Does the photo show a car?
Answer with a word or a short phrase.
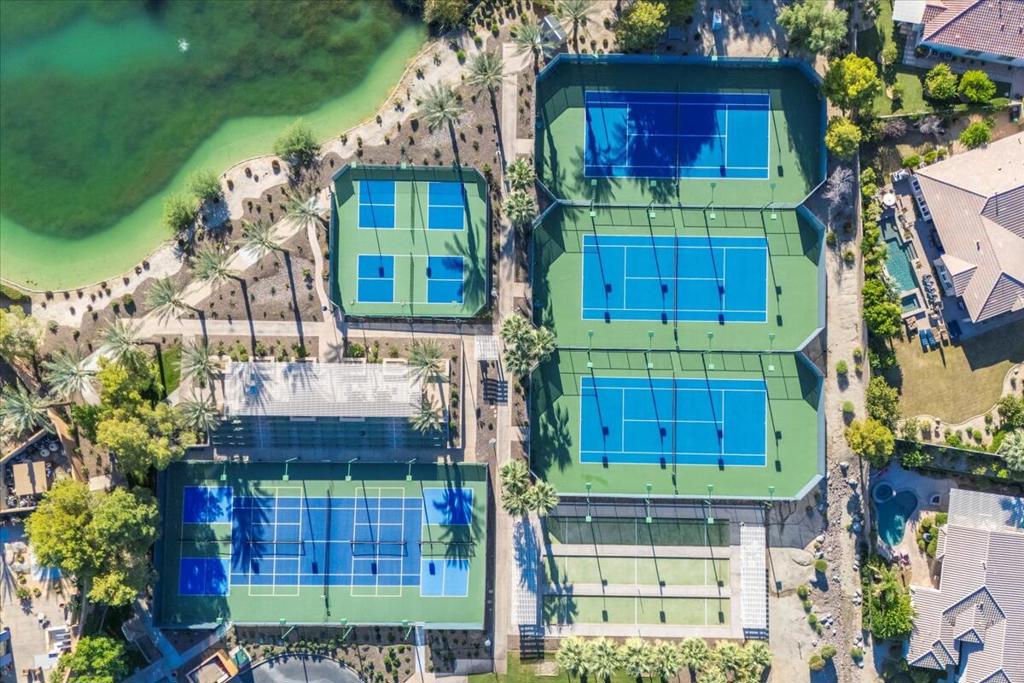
No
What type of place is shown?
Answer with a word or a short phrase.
sports ground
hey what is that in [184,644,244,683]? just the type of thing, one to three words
shed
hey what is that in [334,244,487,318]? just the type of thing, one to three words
sports court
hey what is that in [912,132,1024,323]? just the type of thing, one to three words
house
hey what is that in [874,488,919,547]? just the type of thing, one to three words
swimming pool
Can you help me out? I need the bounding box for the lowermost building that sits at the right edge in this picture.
[904,525,1024,683]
